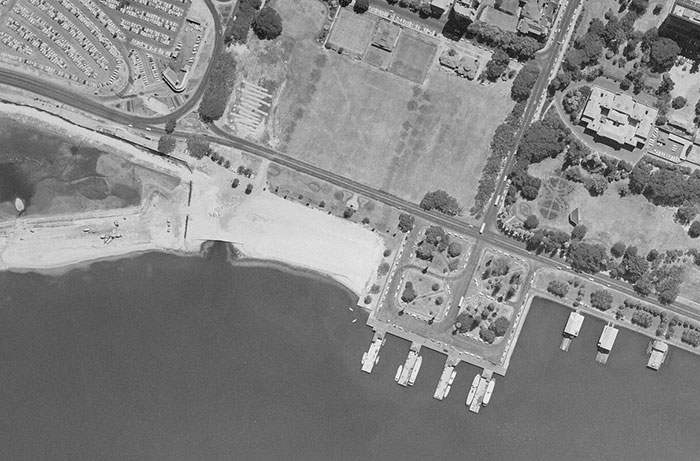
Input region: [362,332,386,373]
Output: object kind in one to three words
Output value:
pier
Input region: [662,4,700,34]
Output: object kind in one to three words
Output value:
building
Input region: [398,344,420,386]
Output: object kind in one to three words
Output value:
pier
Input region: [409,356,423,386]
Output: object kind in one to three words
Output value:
vessel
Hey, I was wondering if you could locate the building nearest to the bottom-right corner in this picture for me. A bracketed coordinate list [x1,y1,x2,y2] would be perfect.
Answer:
[645,337,669,371]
